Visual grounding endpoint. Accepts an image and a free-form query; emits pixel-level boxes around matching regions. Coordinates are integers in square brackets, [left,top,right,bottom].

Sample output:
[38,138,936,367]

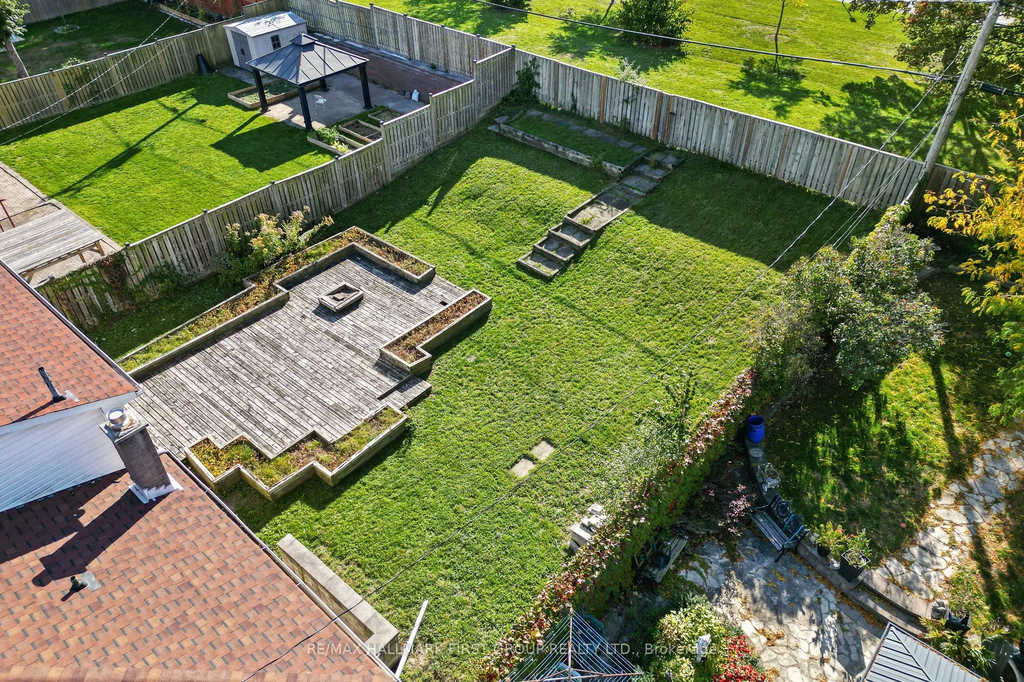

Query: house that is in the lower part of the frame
[0,251,411,682]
